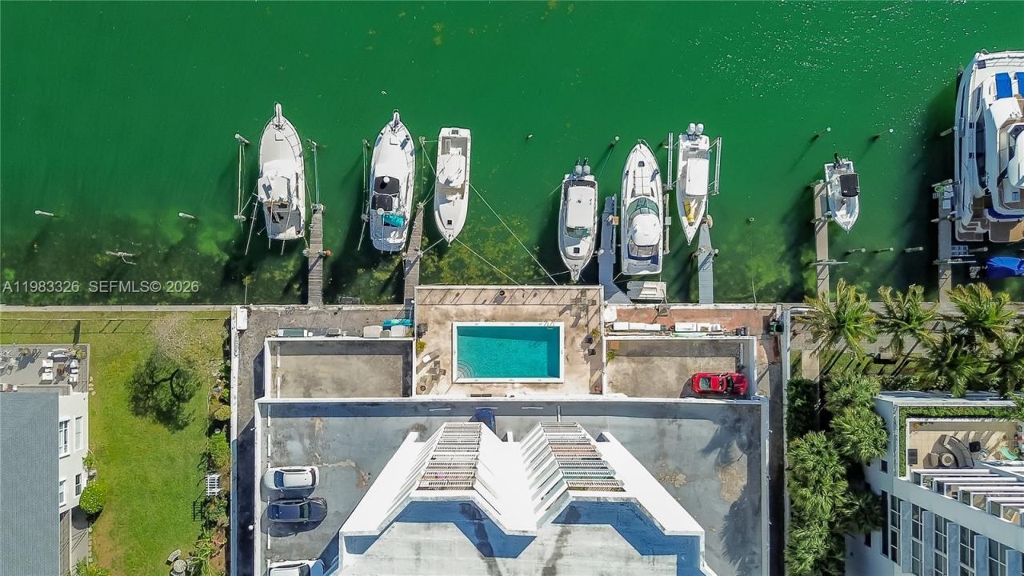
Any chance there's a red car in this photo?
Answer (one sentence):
Yes, I can see a red car in this picture.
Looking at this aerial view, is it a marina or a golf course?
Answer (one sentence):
This looks like a marina.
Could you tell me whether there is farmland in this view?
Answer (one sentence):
No, there is no farmland in the image.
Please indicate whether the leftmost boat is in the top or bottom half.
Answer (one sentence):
You can find the leftmost boat in the top half.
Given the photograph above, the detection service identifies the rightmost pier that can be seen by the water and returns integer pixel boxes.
[918,184,952,302]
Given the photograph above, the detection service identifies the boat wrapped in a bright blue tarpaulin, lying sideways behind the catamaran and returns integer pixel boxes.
[964,257,1024,280]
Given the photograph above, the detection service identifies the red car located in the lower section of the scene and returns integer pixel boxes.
[689,371,748,394]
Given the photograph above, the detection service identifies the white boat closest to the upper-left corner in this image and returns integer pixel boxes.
[244,102,305,255]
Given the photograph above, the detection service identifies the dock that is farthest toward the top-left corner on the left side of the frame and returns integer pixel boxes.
[308,203,330,306]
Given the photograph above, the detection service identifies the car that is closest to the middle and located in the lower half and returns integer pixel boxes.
[473,403,499,436]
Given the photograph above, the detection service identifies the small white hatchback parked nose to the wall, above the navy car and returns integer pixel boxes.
[263,465,320,493]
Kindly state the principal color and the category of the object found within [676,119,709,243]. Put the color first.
white boat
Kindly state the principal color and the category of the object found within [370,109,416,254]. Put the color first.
white boat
